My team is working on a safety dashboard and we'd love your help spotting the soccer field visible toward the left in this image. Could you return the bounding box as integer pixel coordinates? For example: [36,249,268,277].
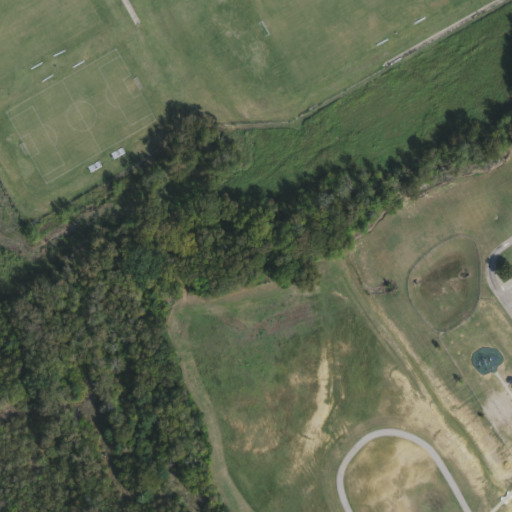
[5,47,158,185]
